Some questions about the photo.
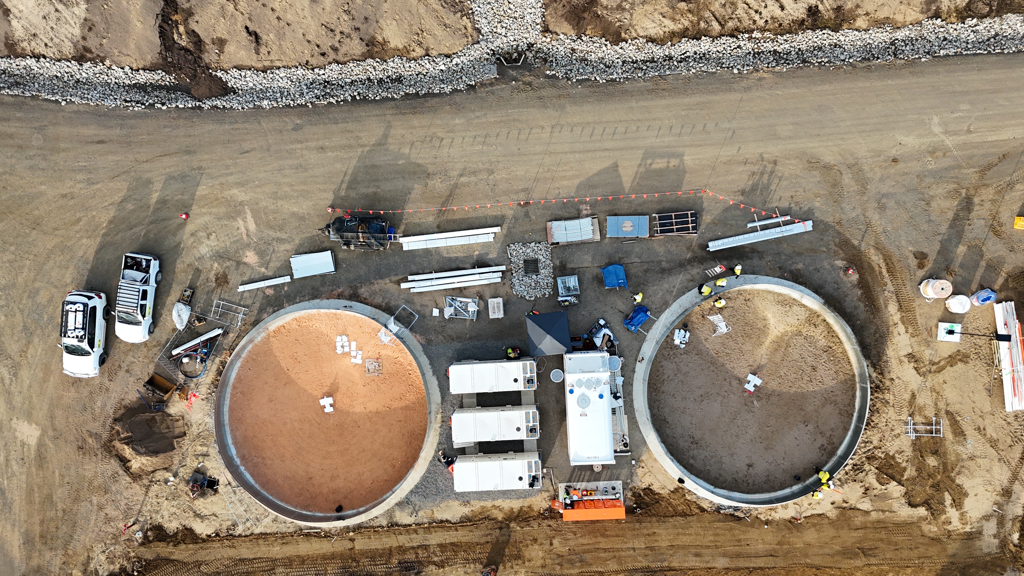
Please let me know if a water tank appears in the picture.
Yes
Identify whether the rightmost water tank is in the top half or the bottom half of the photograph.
bottom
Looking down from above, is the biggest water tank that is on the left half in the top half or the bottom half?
bottom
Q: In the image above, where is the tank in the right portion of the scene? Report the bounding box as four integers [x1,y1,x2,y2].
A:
[633,273,869,509]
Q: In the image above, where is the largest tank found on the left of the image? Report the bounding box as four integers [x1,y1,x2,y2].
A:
[213,298,441,527]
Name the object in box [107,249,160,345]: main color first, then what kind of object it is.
white vehicle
